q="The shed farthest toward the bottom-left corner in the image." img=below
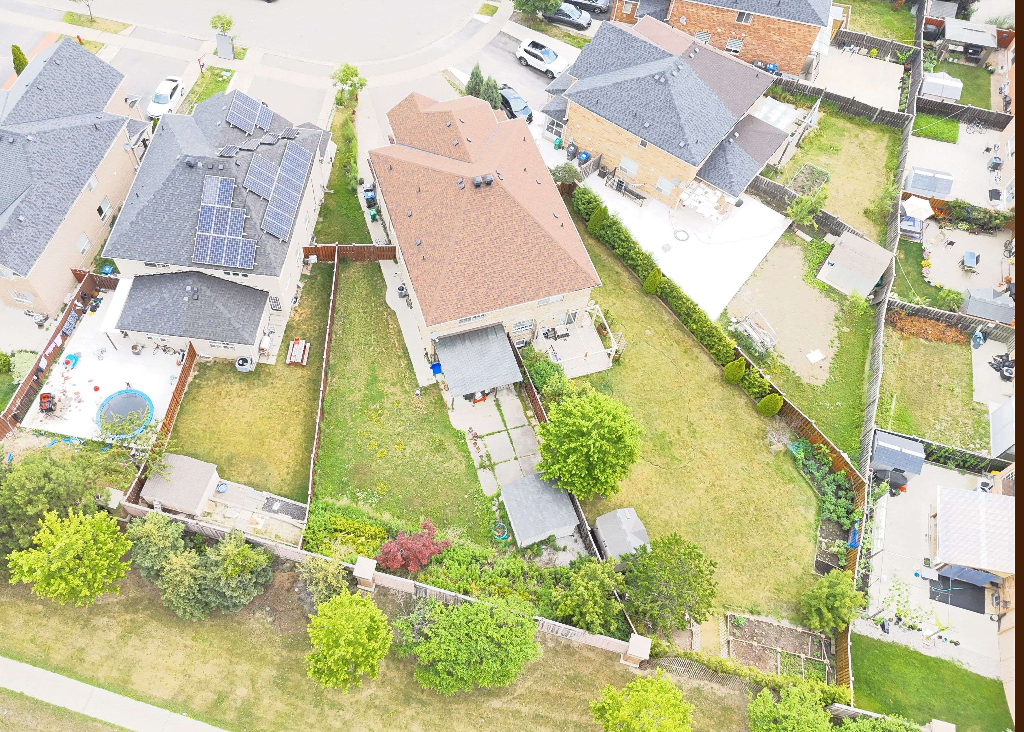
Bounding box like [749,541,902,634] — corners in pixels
[140,453,221,520]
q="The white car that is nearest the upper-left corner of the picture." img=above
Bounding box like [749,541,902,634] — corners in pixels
[144,75,185,118]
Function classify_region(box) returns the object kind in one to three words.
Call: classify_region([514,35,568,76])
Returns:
car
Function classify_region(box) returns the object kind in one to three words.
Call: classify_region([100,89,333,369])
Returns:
house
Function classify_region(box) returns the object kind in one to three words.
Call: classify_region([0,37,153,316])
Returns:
house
